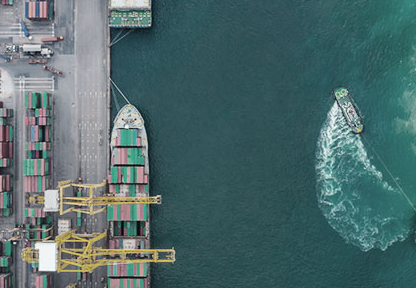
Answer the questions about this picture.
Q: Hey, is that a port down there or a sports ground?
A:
port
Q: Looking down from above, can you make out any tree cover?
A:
No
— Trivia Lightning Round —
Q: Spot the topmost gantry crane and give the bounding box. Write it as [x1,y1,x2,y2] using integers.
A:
[29,177,163,216]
